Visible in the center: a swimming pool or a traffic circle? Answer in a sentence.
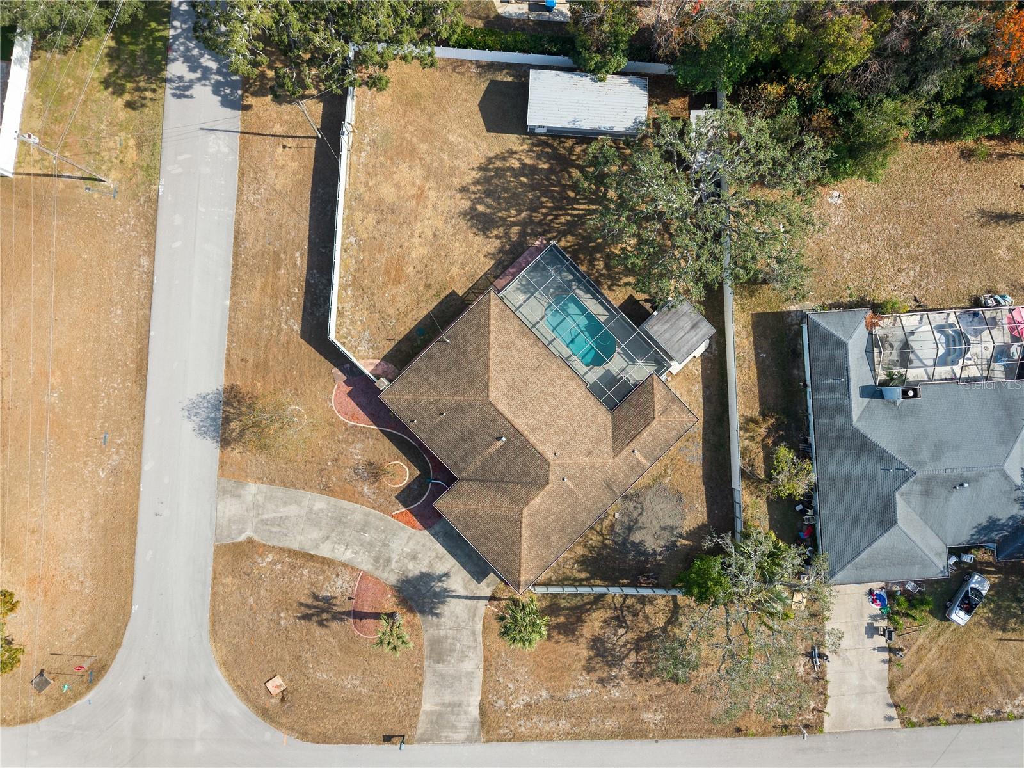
There is a swimming pool in the center.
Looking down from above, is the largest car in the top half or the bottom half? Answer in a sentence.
Seen from above, the largest car lies in the bottom half of the view.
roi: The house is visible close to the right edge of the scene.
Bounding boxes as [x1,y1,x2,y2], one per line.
[805,306,1024,585]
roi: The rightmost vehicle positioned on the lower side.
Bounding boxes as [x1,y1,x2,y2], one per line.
[950,573,991,627]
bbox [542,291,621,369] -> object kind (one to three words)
swimming pool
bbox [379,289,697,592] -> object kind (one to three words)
house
